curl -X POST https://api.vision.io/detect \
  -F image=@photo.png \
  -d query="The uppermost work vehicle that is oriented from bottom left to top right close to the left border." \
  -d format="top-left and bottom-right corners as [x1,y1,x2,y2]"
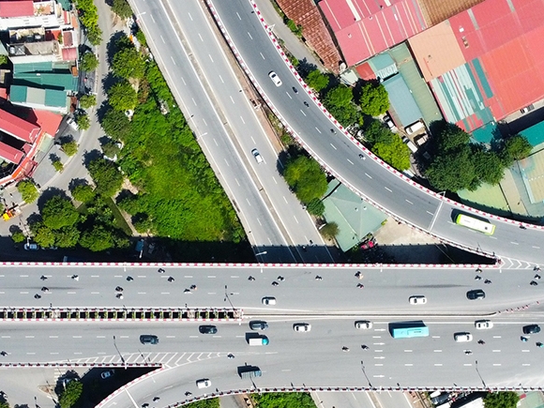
[0,201,29,222]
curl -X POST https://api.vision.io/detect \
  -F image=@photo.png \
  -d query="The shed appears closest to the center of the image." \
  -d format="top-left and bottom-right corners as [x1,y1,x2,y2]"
[323,186,388,253]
